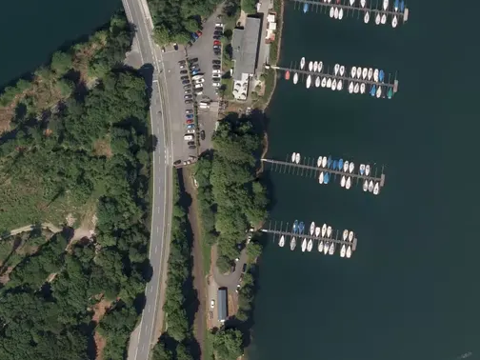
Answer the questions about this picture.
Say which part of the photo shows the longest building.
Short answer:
top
